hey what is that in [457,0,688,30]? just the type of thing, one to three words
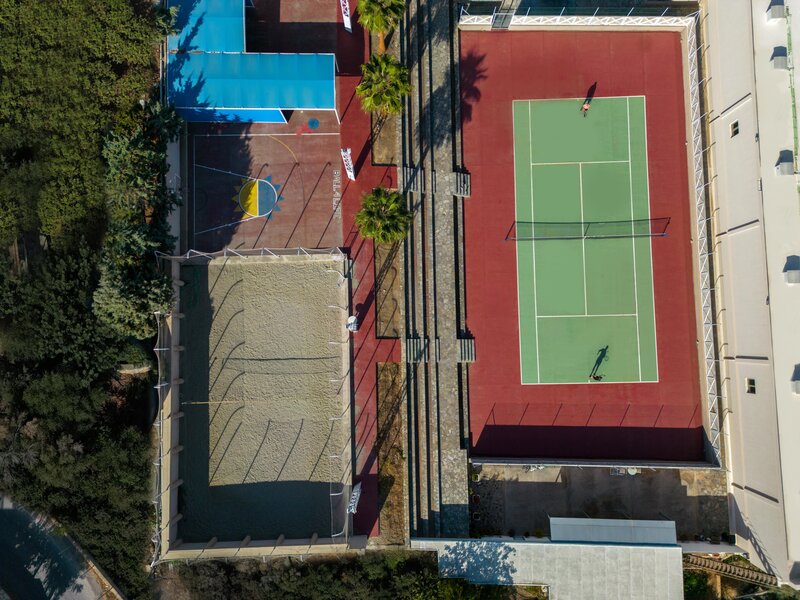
sports court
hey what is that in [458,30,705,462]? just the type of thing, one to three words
tennis court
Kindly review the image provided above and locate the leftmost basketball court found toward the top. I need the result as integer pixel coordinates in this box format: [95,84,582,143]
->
[175,0,342,255]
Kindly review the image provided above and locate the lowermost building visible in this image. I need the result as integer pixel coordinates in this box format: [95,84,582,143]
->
[410,531,688,600]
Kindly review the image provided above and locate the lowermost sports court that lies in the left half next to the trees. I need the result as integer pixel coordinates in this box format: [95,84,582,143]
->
[181,263,344,538]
